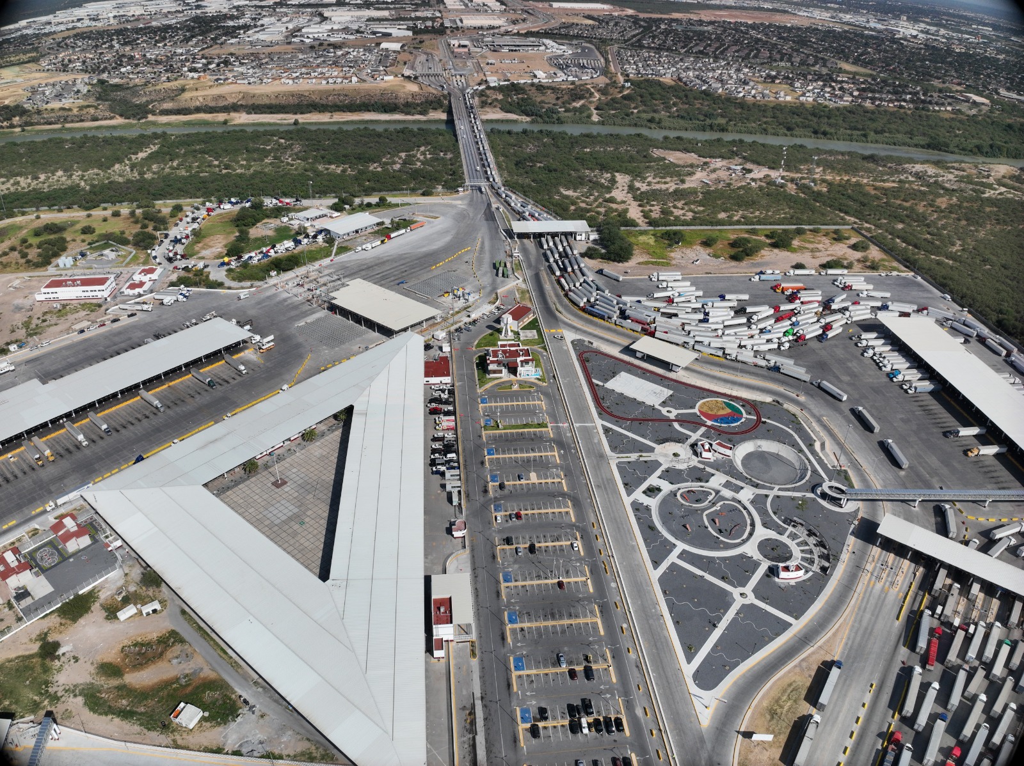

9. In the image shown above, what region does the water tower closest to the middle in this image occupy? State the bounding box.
[498,318,515,344]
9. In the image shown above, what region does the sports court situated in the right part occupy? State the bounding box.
[606,371,673,405]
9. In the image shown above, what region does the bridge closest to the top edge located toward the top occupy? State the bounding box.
[450,86,501,187]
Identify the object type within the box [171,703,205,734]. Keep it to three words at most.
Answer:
house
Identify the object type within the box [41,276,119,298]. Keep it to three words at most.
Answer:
building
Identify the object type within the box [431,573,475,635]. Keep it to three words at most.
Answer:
building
